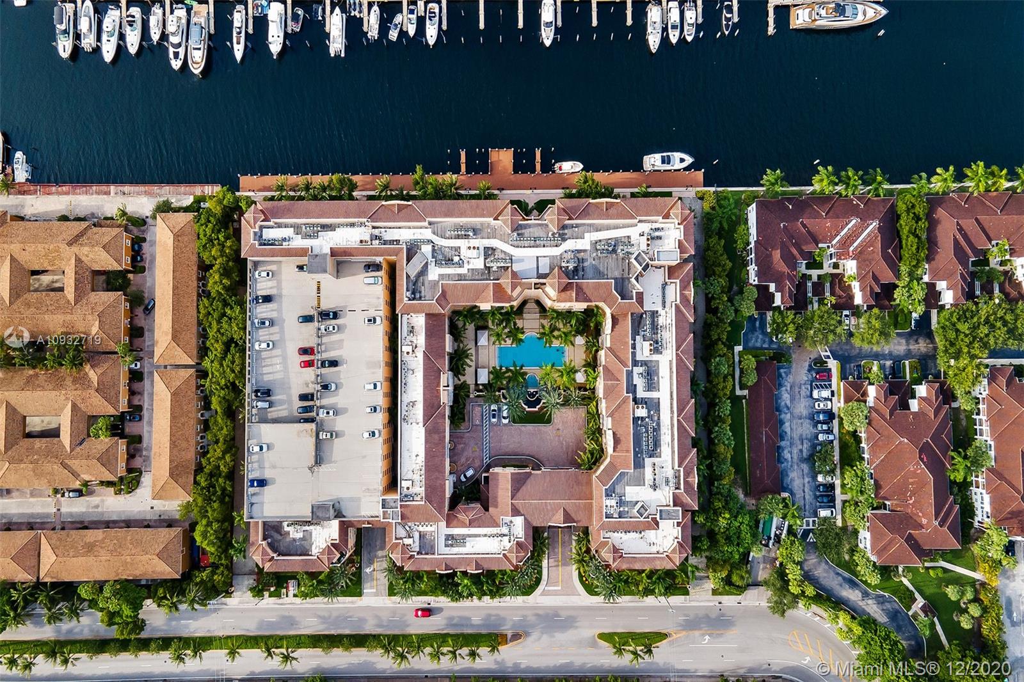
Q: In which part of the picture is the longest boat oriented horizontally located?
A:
top right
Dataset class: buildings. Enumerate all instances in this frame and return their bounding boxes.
[0,221,136,351]
[39,523,190,582]
[0,354,132,488]
[914,599,938,620]
[151,369,205,500]
[910,191,1024,309]
[838,379,962,566]
[154,213,208,365]
[960,366,1024,536]
[741,194,903,311]
[241,197,701,576]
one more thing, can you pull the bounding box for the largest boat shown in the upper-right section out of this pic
[782,1,890,30]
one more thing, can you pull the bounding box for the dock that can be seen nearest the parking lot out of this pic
[240,150,703,191]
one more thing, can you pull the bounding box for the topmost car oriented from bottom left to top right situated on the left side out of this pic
[142,298,156,316]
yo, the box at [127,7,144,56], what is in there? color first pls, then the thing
white boat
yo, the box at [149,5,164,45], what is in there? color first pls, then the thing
white boat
